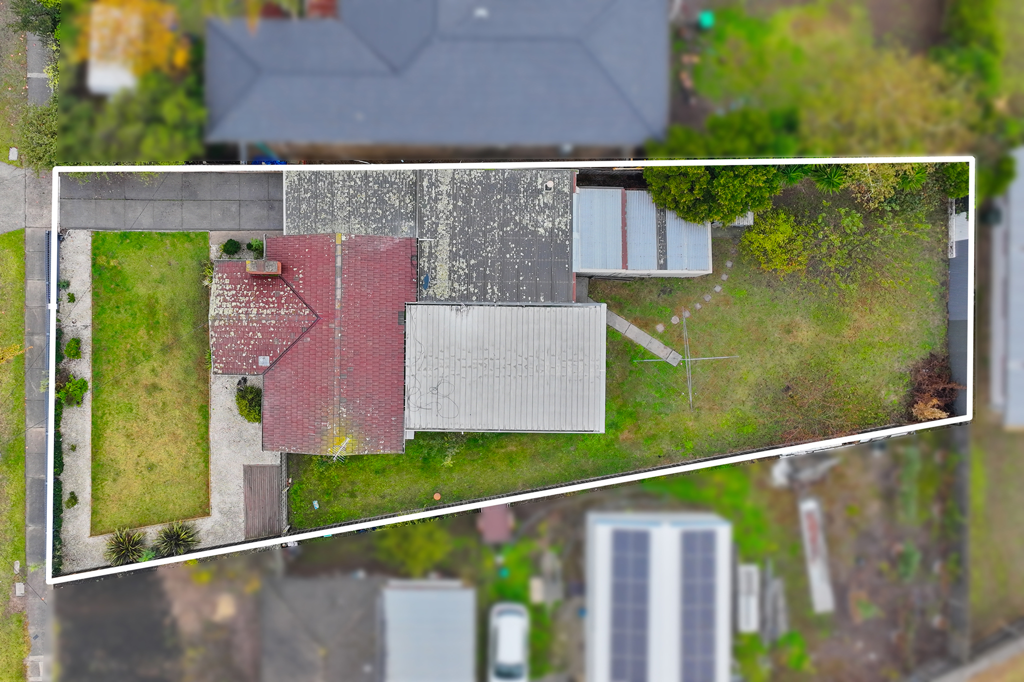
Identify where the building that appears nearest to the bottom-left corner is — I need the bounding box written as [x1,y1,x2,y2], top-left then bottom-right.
[258,570,392,682]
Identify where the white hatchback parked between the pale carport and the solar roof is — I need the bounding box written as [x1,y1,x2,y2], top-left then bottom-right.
[488,608,530,682]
